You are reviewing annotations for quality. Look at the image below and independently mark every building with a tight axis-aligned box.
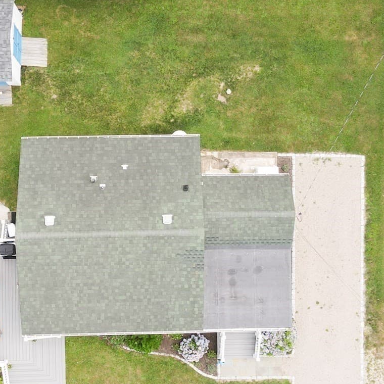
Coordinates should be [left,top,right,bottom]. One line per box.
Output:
[15,132,302,339]
[0,0,21,86]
